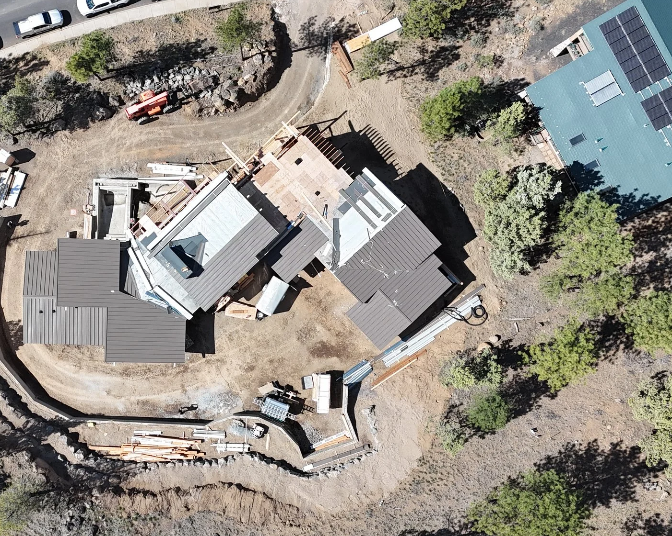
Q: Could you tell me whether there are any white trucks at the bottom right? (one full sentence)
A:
No, looking at the bottom right, there is no white truck.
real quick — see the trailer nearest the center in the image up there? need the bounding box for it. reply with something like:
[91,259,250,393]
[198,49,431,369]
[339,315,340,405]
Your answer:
[255,275,297,319]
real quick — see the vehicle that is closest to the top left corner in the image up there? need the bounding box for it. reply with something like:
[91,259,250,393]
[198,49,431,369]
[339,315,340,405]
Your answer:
[11,8,64,41]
